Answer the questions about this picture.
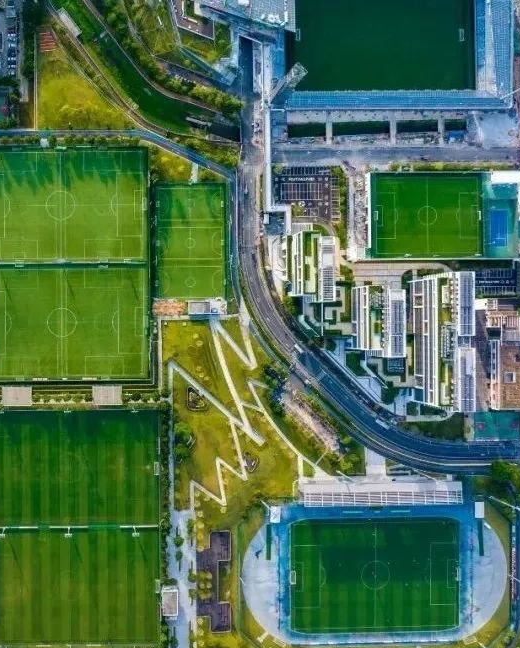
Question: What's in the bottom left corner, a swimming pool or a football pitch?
football pitch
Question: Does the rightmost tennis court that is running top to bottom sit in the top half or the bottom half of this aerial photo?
top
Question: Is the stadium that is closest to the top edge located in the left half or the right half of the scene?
right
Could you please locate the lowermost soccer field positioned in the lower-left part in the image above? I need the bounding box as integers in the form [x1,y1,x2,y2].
[0,528,165,648]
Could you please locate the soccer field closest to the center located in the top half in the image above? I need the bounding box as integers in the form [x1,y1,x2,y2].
[152,182,229,302]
